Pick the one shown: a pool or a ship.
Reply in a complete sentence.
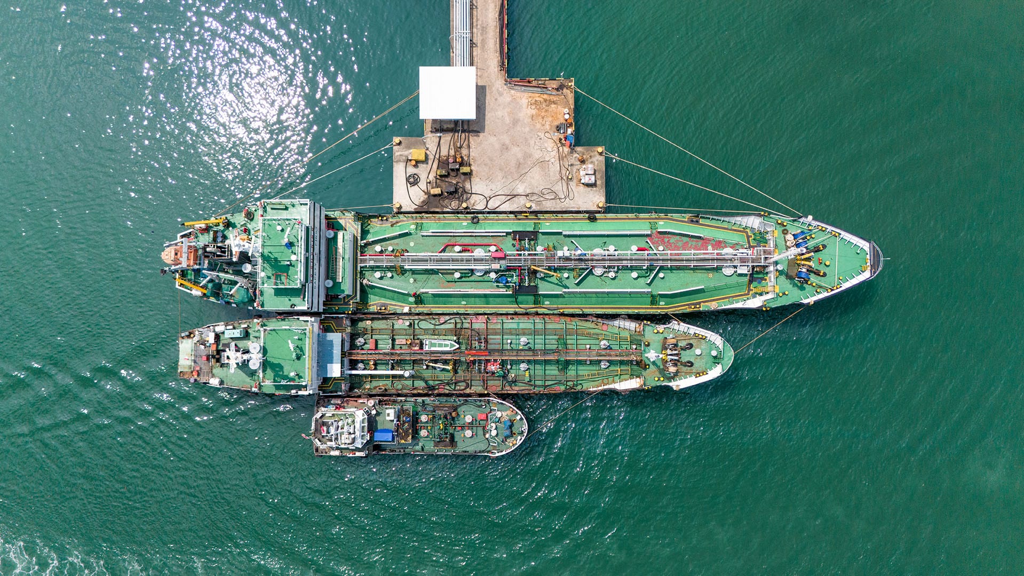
The one in the frame is a ship.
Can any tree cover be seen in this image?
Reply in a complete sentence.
No, tree cover can't be seen anywhere here.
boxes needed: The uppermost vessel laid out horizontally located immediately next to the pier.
[159,198,890,315]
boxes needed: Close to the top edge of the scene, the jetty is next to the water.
[393,0,605,216]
